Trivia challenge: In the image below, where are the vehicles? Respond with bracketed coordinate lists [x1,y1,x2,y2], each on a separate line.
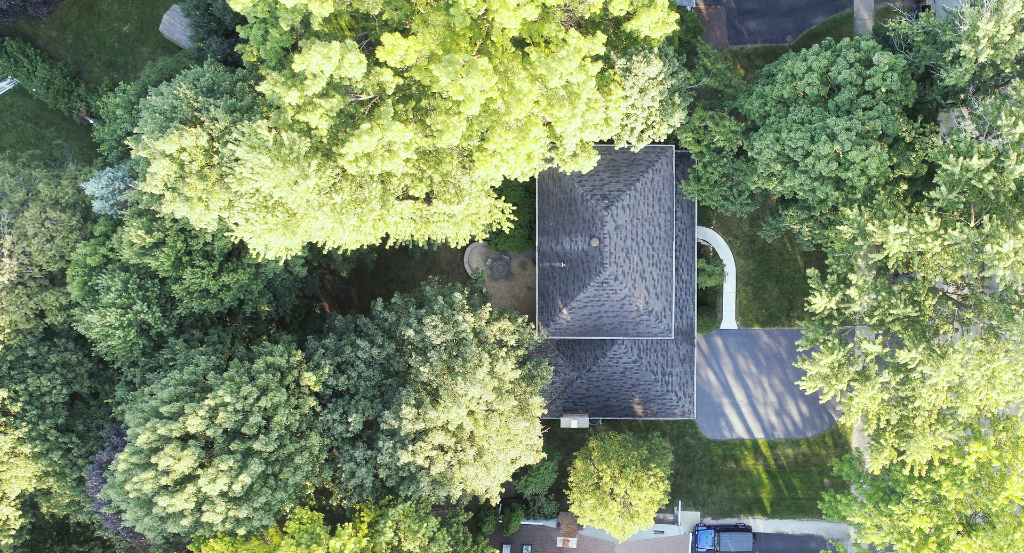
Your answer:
[689,522,754,553]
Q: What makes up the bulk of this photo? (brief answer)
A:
trees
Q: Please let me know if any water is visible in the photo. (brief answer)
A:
No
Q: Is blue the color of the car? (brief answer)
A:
Yes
